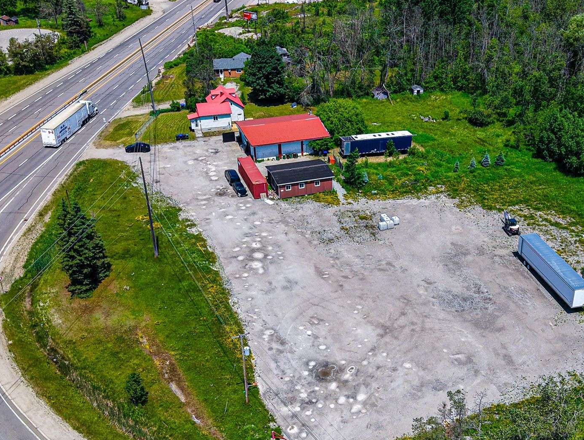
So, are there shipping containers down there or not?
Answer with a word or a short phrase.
Yes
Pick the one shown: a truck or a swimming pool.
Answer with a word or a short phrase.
truck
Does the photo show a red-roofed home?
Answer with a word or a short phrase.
Yes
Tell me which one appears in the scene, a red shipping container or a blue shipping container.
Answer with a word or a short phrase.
red shipping container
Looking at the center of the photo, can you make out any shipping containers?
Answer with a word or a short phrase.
Yes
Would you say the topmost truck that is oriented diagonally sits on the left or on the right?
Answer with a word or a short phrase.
left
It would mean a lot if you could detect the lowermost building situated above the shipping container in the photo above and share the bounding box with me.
[239,113,331,162]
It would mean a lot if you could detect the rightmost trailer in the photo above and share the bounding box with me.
[517,232,584,309]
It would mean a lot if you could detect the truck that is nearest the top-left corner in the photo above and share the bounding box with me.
[40,99,99,145]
